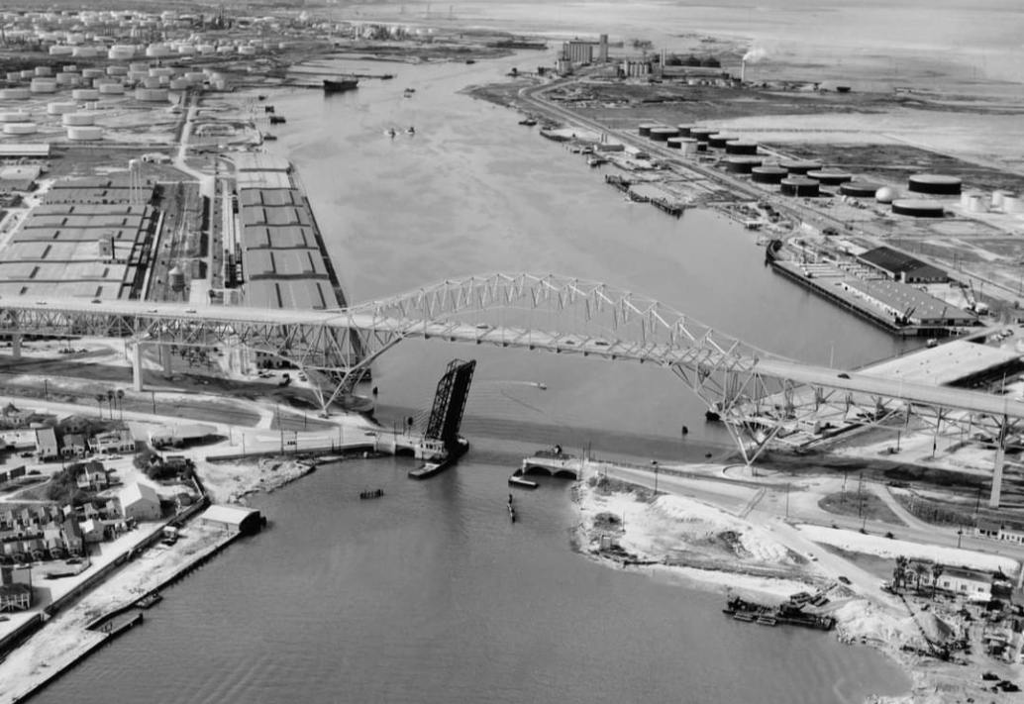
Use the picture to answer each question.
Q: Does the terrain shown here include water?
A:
Yes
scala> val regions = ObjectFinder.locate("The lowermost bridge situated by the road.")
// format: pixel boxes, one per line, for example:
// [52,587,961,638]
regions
[0,274,1024,498]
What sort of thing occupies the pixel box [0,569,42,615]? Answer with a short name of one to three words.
house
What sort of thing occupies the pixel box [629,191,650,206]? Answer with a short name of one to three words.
ship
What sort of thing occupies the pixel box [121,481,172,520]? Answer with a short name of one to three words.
building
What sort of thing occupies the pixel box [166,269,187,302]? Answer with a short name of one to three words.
water tower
